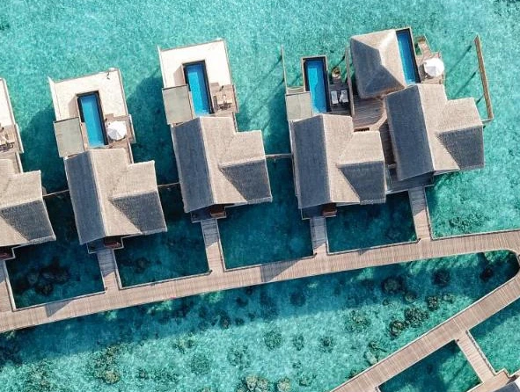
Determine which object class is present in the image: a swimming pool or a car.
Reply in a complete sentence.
There is a swimming pool in the scene.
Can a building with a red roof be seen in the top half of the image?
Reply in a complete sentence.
No, in the top half of the image there is no building with a red roof.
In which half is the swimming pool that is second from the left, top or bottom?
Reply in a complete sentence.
The top half of the photo is where the swimming pool that is second from the left is.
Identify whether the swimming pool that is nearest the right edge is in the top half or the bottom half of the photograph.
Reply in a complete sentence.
It is in the top half that the swimming pool that is nearest the right edge appears.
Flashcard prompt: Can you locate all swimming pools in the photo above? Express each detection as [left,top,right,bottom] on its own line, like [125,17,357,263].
[400,27,422,85]
[182,59,214,117]
[299,56,330,113]
[75,91,109,149]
